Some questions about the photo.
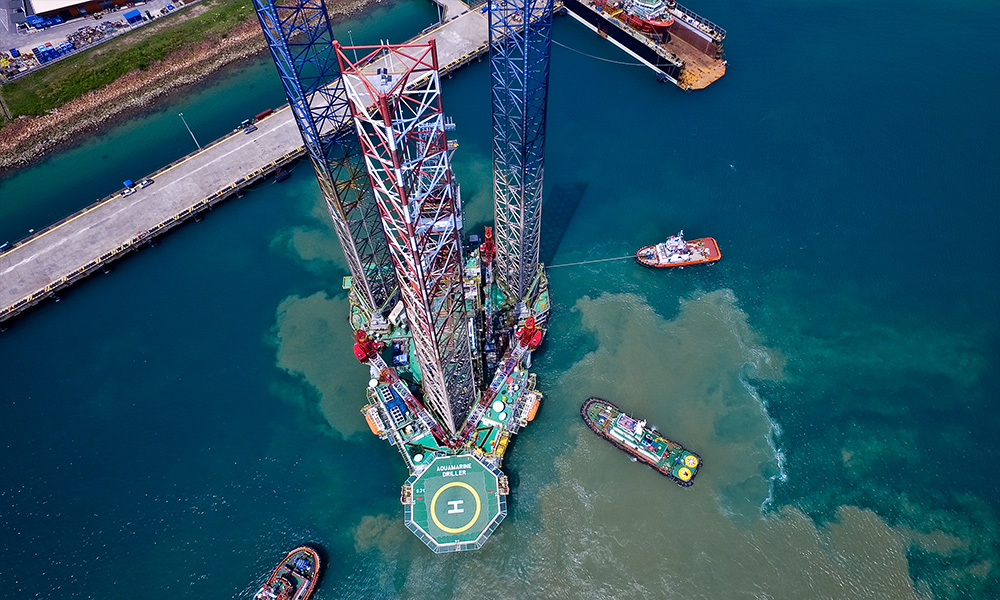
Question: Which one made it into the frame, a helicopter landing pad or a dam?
helicopter landing pad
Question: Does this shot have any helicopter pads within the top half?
No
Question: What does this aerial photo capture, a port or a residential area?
port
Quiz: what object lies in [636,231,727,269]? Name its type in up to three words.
boat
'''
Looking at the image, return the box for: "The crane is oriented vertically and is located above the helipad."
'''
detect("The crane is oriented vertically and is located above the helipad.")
[476,236,500,360]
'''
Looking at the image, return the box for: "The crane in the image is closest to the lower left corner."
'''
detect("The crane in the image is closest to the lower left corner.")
[348,320,448,444]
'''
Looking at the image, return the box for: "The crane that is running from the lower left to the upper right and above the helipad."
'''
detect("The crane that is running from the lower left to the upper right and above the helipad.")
[460,307,546,445]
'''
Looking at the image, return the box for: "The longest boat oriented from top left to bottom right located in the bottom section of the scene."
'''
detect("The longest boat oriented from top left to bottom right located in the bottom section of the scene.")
[580,395,705,487]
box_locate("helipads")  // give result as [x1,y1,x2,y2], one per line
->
[401,448,509,553]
